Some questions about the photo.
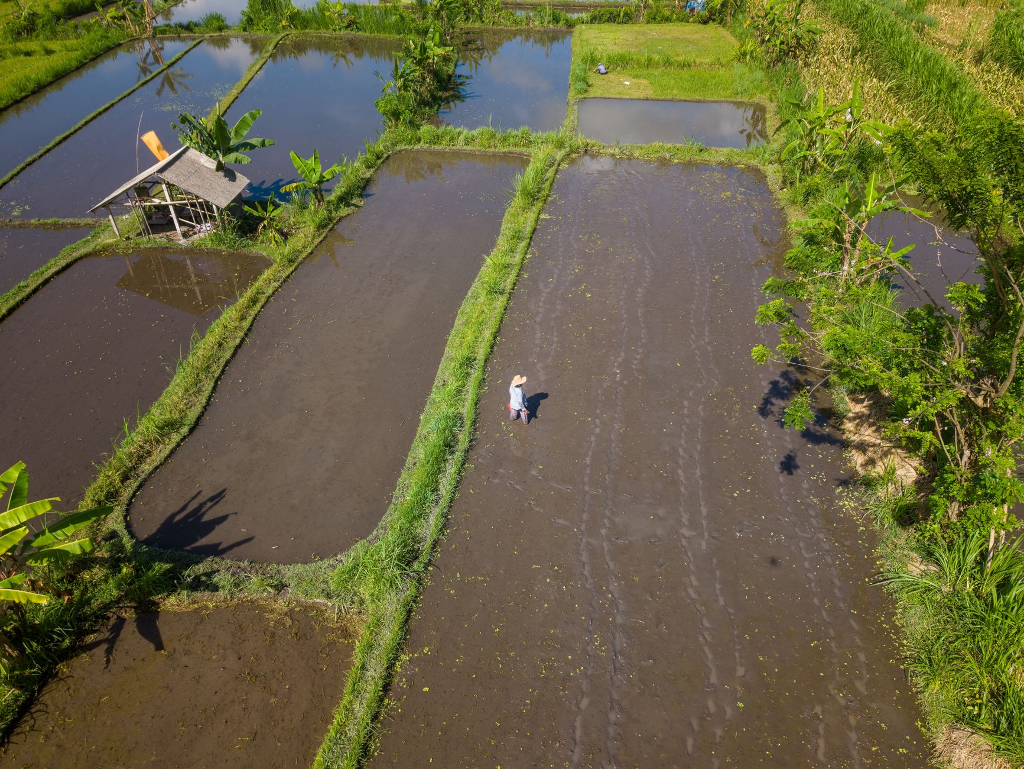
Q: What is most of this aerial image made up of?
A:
water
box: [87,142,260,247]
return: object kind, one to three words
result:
shed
